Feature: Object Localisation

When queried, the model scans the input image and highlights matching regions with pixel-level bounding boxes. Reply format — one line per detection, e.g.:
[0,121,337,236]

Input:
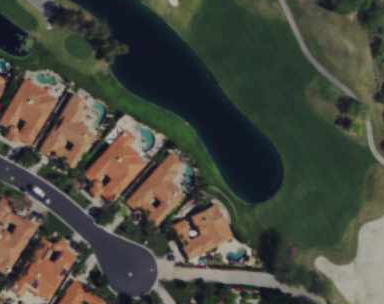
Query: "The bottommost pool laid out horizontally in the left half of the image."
[36,72,60,86]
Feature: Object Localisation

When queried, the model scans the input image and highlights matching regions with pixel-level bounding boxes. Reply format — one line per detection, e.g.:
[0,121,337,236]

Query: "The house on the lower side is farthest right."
[174,203,235,260]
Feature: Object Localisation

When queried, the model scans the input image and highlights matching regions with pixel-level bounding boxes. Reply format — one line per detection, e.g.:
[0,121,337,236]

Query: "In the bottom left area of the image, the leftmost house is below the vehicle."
[0,196,38,274]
